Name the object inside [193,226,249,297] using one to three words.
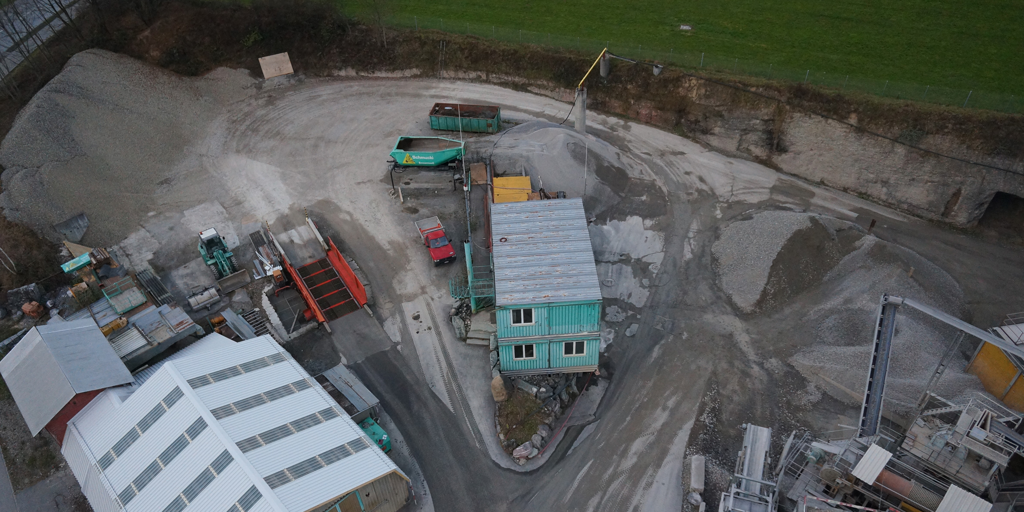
work vehicle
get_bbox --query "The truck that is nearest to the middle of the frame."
[414,216,458,268]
